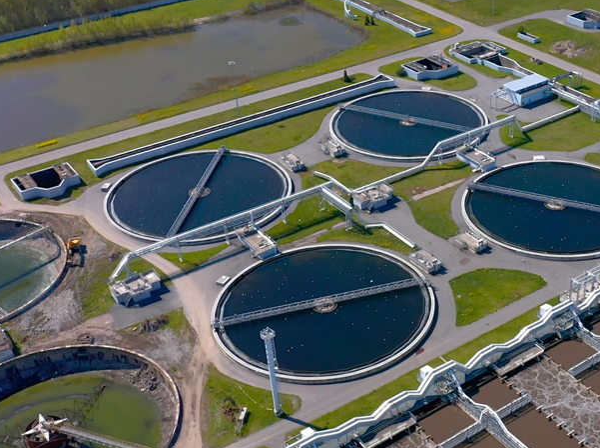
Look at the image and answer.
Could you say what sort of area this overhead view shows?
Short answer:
industrial area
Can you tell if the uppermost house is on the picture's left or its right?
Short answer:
right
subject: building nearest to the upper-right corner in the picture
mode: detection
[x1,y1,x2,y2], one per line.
[498,68,553,106]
